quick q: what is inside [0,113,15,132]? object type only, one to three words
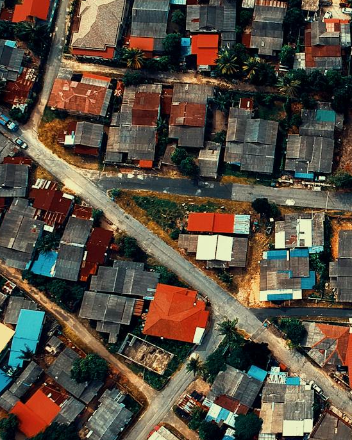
vehicle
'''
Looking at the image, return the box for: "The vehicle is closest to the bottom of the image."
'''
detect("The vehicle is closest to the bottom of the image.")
[311,384,327,398]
